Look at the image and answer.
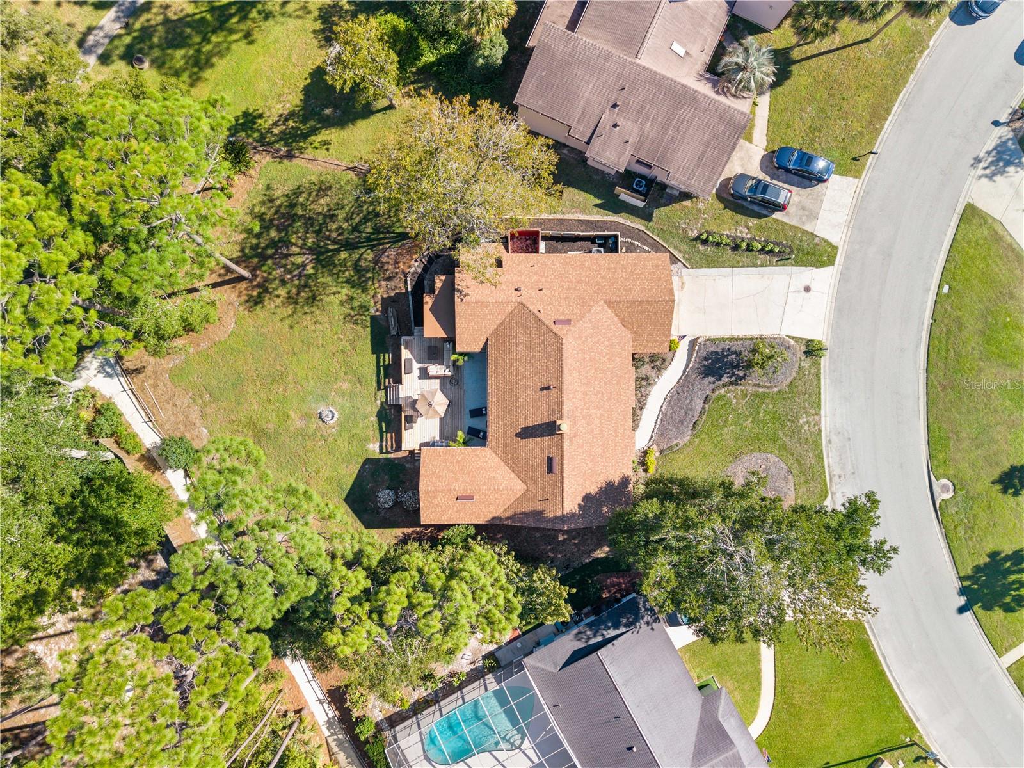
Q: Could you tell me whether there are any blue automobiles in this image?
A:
Yes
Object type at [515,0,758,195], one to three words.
house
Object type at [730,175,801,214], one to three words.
car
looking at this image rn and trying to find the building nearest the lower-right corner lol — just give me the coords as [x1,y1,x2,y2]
[521,592,769,768]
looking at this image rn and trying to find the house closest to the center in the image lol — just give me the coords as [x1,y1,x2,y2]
[418,244,676,530]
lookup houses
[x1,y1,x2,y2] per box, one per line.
[521,592,769,768]
[418,244,676,530]
[515,0,758,195]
